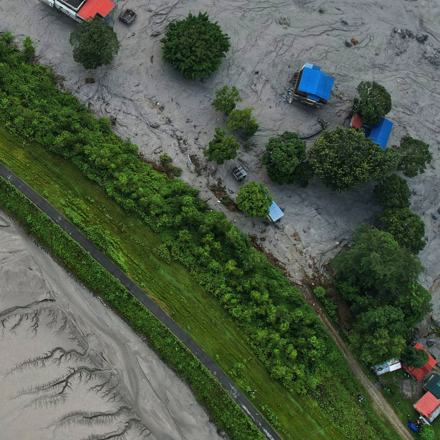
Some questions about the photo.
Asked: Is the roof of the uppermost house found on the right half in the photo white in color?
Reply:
No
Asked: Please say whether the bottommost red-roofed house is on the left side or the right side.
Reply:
right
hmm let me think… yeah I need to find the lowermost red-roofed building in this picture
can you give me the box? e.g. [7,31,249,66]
[410,392,440,423]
